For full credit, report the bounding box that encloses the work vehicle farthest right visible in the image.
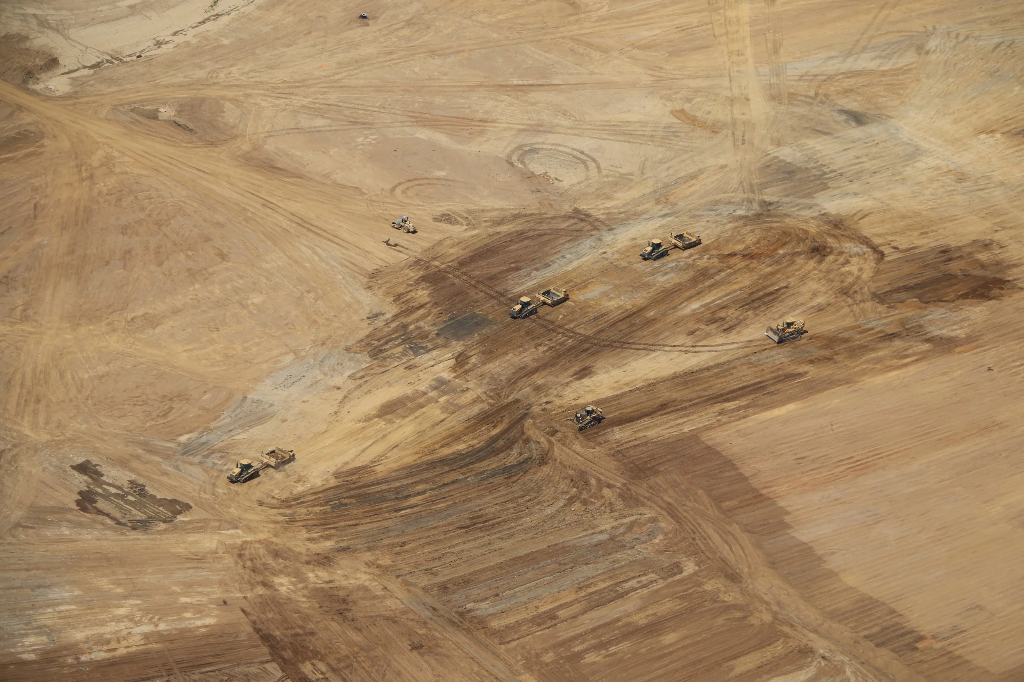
[765,318,804,345]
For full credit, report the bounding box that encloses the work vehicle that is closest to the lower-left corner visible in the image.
[228,458,260,483]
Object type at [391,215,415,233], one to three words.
work vehicle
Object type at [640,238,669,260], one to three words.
work vehicle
